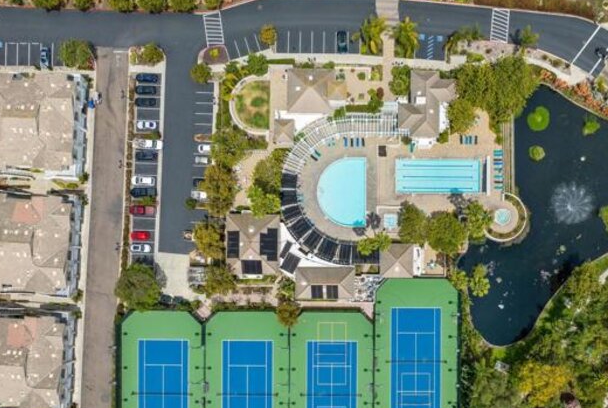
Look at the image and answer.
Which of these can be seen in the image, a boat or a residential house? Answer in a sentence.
Visible in the photo is a residential house.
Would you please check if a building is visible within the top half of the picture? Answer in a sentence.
Yes, a building is visible within the top half of the picture.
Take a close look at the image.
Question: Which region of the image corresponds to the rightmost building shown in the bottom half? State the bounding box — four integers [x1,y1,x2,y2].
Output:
[379,243,422,277]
